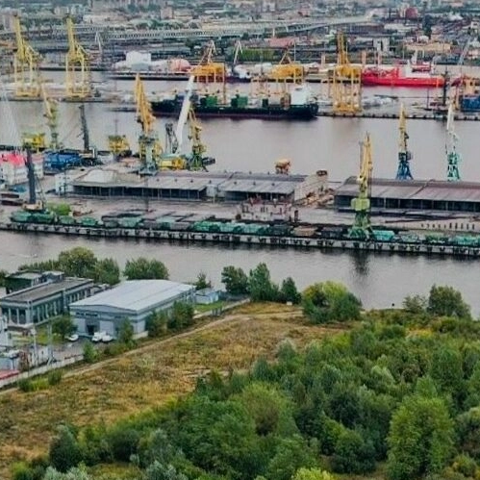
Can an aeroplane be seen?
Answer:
No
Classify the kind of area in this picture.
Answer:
port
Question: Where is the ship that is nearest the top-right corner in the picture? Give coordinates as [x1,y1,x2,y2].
[361,47,454,86]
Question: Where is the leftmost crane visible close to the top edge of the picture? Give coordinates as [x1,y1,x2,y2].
[9,18,44,99]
